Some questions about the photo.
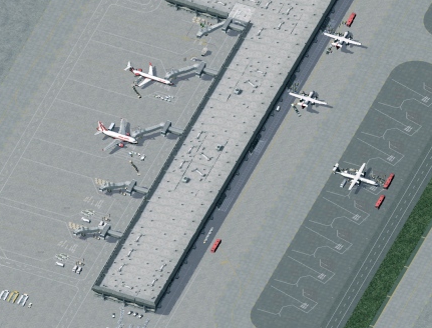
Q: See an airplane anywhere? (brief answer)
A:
Yes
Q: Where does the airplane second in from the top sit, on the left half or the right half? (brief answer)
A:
left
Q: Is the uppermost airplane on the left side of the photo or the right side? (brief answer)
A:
right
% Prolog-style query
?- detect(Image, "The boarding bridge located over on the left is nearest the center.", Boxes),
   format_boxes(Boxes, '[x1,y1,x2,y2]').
[130,121,183,142]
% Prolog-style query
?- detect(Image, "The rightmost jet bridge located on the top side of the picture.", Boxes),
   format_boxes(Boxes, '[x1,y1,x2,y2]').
[196,16,246,40]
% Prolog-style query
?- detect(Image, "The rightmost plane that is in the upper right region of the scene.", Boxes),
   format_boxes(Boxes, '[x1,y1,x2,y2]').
[323,32,358,55]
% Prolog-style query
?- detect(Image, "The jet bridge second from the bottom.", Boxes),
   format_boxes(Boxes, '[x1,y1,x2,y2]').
[98,180,149,201]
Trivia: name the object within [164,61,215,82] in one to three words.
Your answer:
jet bridge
